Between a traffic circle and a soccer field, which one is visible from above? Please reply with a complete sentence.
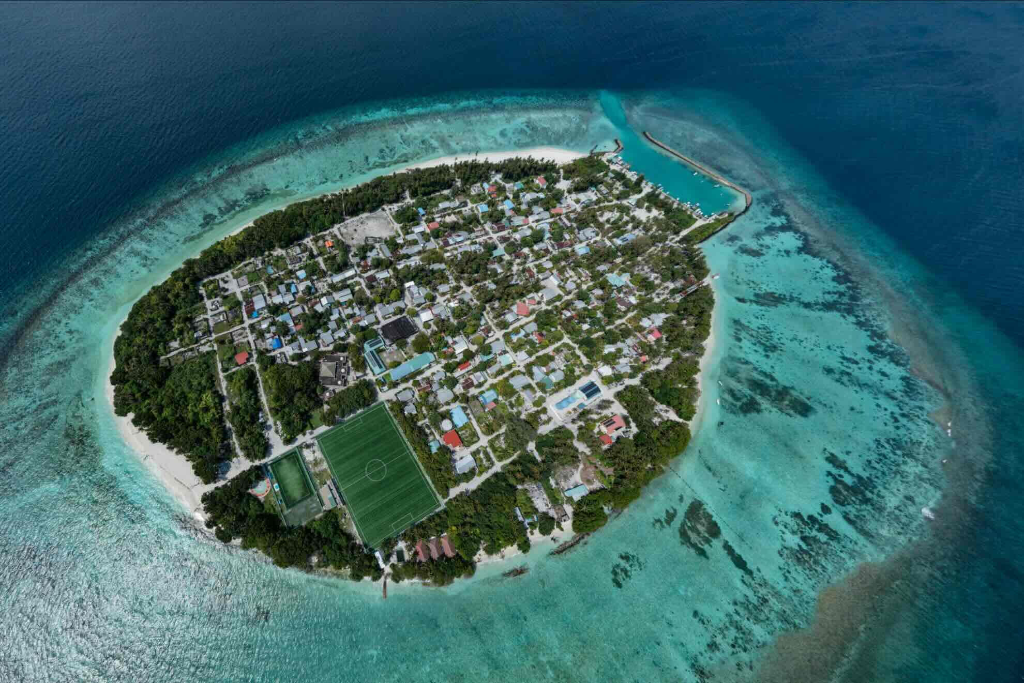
Of the two, only a soccer field appears.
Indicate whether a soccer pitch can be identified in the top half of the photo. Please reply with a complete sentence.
No, looking in the top half of the photo, there is no soccer pitch.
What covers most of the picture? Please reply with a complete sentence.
The largest share of the image is taken up by water.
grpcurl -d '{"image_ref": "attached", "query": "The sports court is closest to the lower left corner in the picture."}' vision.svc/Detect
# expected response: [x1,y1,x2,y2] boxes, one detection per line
[266,448,322,527]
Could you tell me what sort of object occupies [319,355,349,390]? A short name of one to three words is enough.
building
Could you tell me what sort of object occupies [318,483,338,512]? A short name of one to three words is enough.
building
